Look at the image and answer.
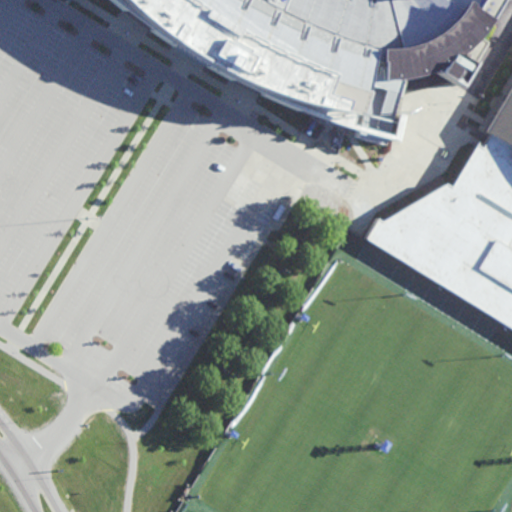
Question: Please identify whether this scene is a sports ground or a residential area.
sports ground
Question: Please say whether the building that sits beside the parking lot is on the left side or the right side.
right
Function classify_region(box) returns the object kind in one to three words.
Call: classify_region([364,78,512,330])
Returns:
building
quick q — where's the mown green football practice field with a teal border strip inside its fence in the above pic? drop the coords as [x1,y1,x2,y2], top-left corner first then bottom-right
[179,250,512,512]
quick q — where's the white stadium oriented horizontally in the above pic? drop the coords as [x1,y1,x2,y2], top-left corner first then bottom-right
[108,0,512,149]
